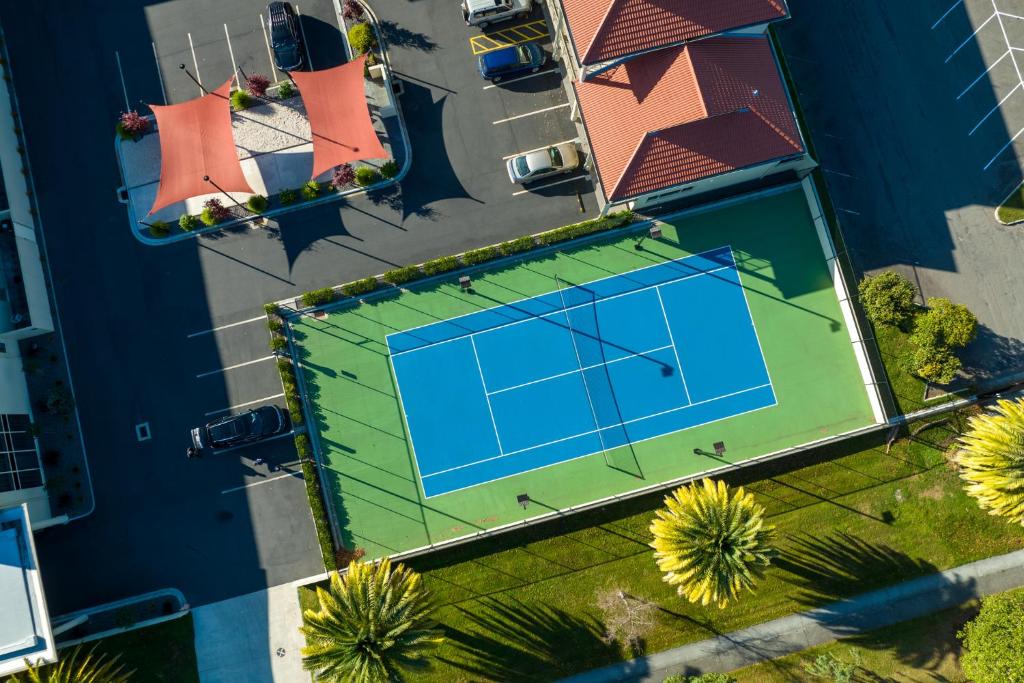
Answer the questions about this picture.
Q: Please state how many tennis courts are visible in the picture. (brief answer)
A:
1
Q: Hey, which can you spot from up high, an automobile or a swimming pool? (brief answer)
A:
automobile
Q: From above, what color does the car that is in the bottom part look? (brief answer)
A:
black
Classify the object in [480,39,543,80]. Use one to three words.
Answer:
car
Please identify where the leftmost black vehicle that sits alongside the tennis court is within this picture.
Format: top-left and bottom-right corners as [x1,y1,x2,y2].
[192,403,293,450]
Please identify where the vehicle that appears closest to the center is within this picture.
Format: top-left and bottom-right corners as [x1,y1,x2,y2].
[506,142,580,184]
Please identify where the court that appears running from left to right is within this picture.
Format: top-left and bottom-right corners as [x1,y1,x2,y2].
[295,183,878,564]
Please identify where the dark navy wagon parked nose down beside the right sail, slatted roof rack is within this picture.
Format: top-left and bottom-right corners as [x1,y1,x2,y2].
[262,0,306,76]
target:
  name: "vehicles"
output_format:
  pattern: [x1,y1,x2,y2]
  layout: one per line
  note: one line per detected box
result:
[462,0,537,27]
[480,39,543,80]
[192,403,293,450]
[506,142,580,184]
[262,0,306,76]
